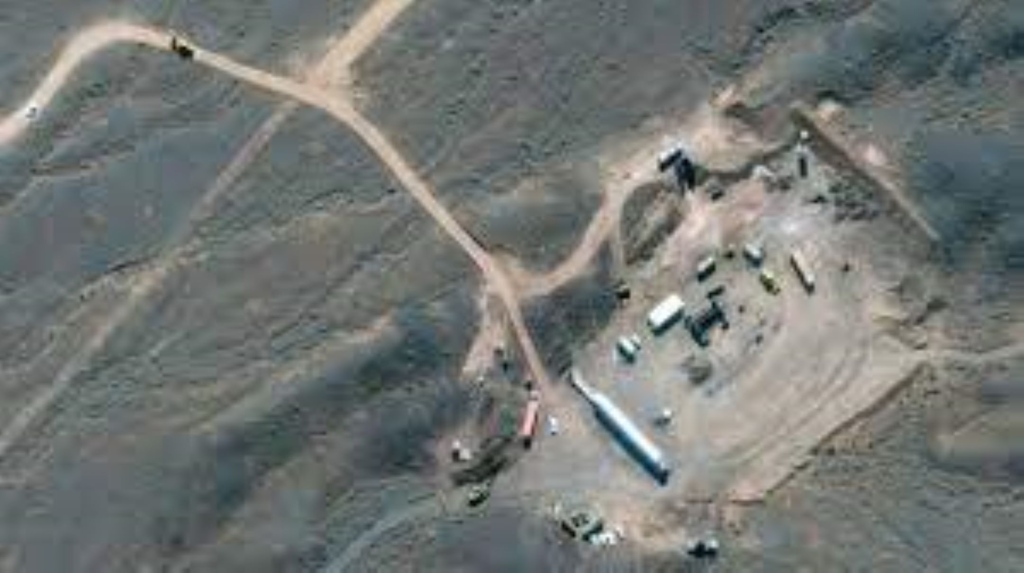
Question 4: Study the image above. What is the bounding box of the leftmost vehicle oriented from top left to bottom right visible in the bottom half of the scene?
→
[616,336,636,358]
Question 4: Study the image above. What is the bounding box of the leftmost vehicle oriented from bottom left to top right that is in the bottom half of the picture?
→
[465,486,486,503]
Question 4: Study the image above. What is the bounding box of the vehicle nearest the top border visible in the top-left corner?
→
[171,38,195,56]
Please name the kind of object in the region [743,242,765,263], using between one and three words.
truck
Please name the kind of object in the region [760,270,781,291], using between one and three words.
work vehicle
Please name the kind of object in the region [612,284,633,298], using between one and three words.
vehicle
